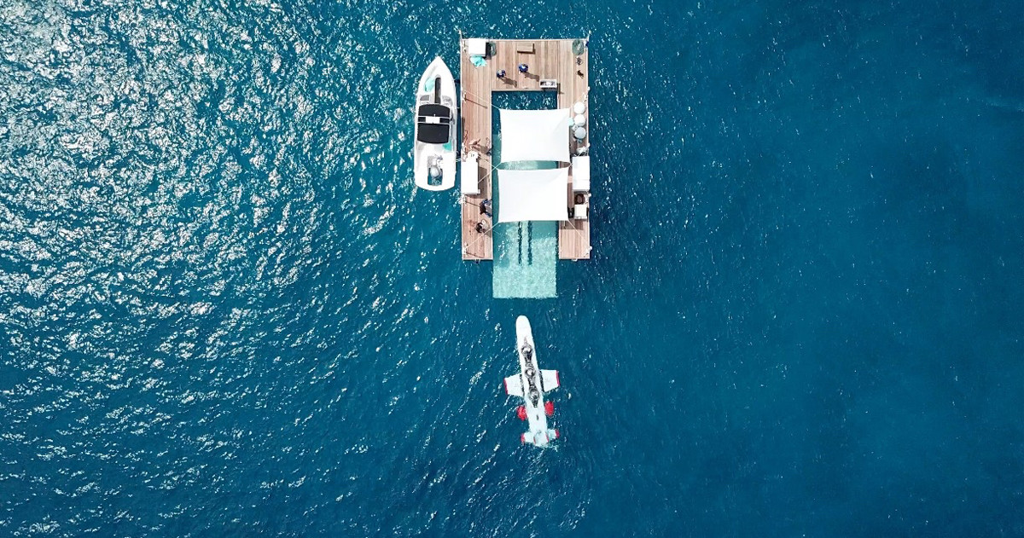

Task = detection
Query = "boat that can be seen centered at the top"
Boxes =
[415,56,458,191]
